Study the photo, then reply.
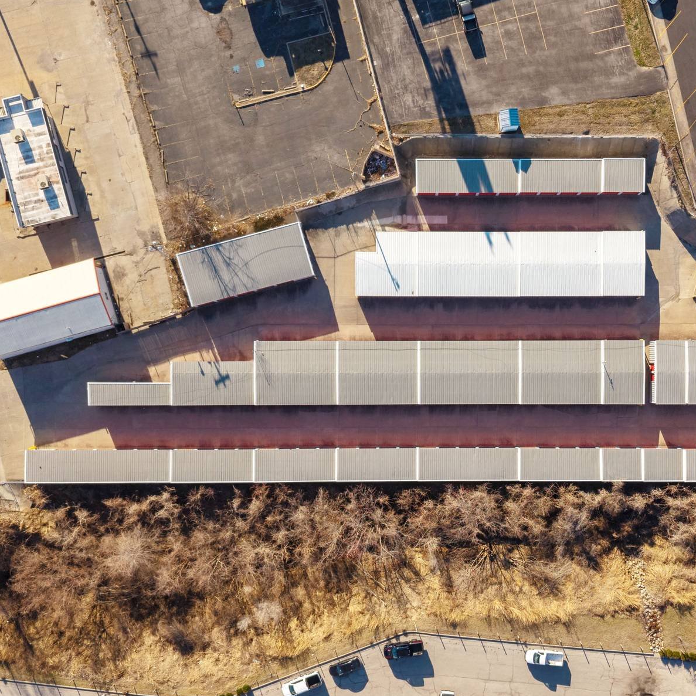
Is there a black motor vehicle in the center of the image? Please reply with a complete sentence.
No, no black motor vehicle appears in the center of the image.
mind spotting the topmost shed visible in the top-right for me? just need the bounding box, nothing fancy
[499,109,520,134]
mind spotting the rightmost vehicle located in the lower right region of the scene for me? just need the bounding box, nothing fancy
[526,649,563,666]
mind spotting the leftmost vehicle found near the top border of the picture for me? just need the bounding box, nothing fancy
[456,0,479,34]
